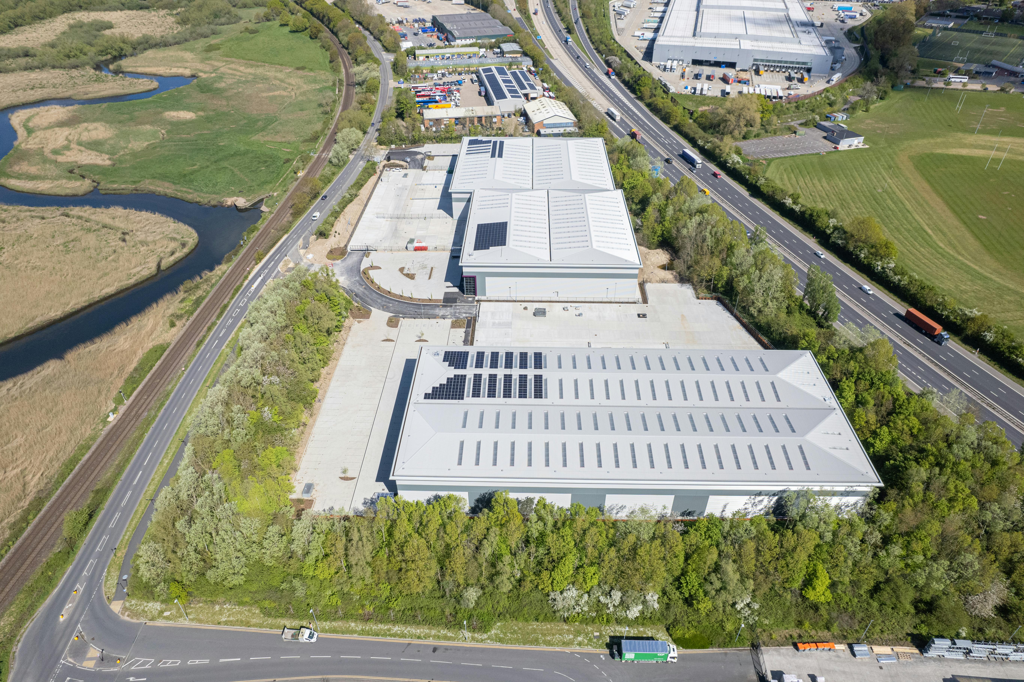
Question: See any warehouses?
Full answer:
Yes, this view includes a warehouse.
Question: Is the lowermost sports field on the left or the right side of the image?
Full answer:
It is on the right.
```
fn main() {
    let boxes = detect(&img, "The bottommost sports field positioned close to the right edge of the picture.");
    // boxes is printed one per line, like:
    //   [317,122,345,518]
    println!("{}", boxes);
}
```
[763,88,1024,371]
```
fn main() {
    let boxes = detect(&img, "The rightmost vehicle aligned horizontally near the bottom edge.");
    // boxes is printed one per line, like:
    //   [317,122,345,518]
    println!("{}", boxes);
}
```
[624,640,680,662]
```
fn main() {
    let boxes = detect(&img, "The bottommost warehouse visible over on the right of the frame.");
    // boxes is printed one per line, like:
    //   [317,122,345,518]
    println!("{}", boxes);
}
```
[389,346,885,519]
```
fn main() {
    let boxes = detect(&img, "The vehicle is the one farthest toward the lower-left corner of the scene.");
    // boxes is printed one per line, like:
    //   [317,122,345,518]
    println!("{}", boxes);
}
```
[281,626,316,644]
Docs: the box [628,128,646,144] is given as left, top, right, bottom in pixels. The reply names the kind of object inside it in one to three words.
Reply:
vehicle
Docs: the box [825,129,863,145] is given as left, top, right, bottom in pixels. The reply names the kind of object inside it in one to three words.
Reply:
building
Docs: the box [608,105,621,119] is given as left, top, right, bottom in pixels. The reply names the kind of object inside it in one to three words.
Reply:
vehicle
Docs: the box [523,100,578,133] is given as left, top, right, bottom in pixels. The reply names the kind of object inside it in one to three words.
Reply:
shed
